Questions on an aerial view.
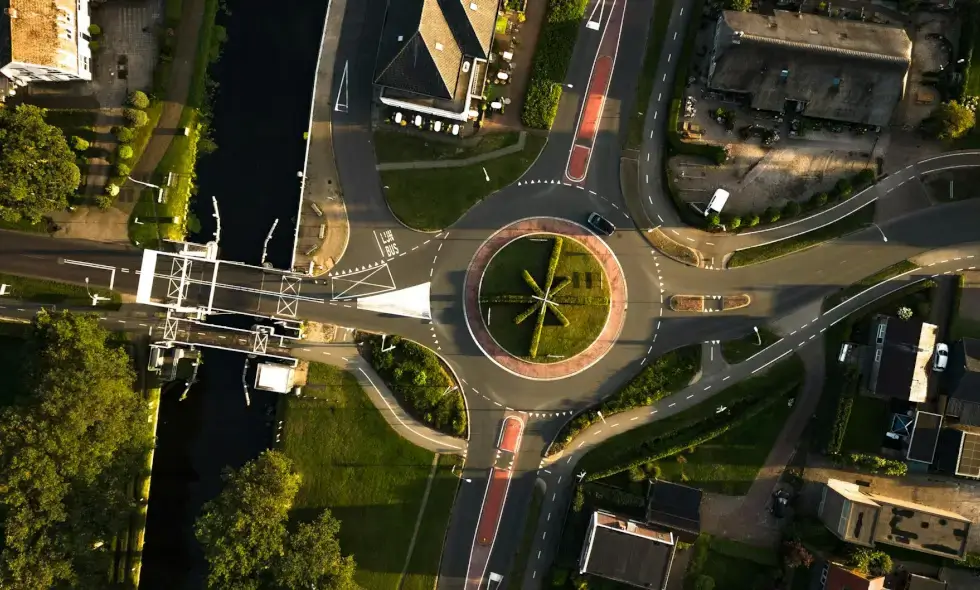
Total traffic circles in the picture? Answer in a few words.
1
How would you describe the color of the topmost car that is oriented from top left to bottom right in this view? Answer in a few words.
black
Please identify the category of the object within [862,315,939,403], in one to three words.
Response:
house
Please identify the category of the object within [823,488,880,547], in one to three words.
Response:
building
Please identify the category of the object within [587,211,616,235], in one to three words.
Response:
car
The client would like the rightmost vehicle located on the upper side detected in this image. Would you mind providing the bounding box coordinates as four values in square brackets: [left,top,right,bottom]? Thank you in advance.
[706,186,731,216]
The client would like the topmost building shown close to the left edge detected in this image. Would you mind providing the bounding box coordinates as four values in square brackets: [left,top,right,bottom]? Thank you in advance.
[0,0,93,83]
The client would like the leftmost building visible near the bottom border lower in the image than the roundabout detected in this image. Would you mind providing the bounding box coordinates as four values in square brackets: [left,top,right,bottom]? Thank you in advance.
[575,511,672,590]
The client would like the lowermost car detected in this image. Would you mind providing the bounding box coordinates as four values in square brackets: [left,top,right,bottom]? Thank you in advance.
[776,491,791,519]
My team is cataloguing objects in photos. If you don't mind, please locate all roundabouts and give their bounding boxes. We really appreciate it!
[463,217,627,380]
